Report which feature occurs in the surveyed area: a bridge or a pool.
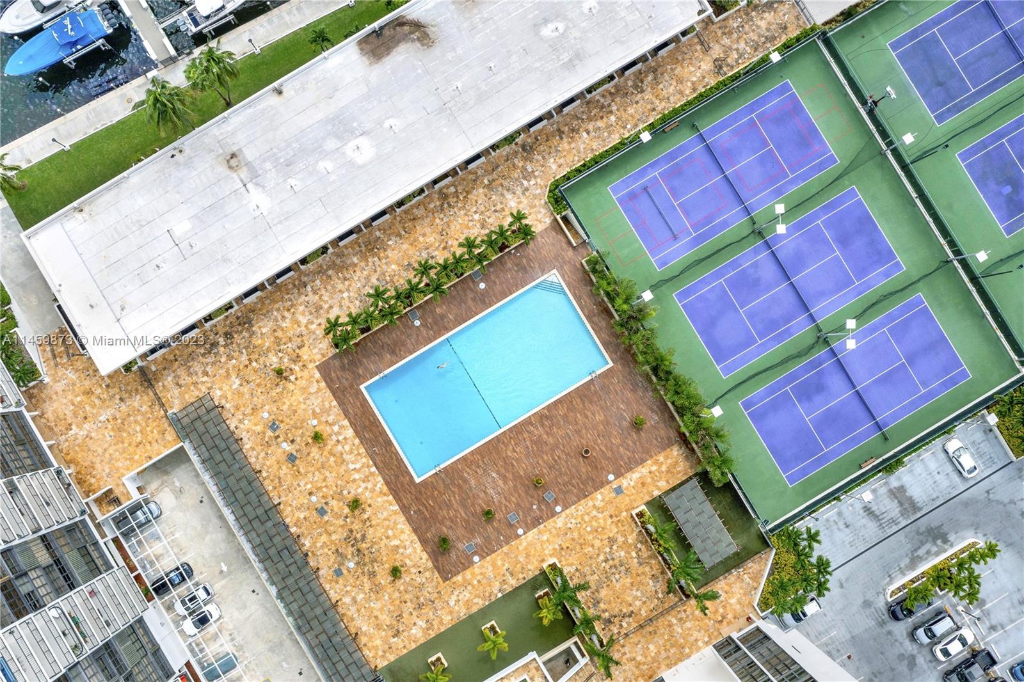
pool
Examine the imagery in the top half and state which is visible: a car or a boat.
boat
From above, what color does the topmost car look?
white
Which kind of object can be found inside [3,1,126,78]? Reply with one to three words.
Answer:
boat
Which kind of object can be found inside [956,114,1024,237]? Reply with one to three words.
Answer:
tennis court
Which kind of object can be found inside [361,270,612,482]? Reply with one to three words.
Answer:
swimming pool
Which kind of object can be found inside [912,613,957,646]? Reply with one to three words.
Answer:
car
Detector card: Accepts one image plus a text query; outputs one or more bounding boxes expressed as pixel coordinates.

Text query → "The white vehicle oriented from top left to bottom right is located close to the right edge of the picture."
[942,437,977,480]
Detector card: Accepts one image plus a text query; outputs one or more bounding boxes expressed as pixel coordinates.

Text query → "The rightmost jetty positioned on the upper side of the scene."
[126,0,178,65]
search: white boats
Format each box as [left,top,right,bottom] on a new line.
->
[178,0,261,41]
[0,0,82,33]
